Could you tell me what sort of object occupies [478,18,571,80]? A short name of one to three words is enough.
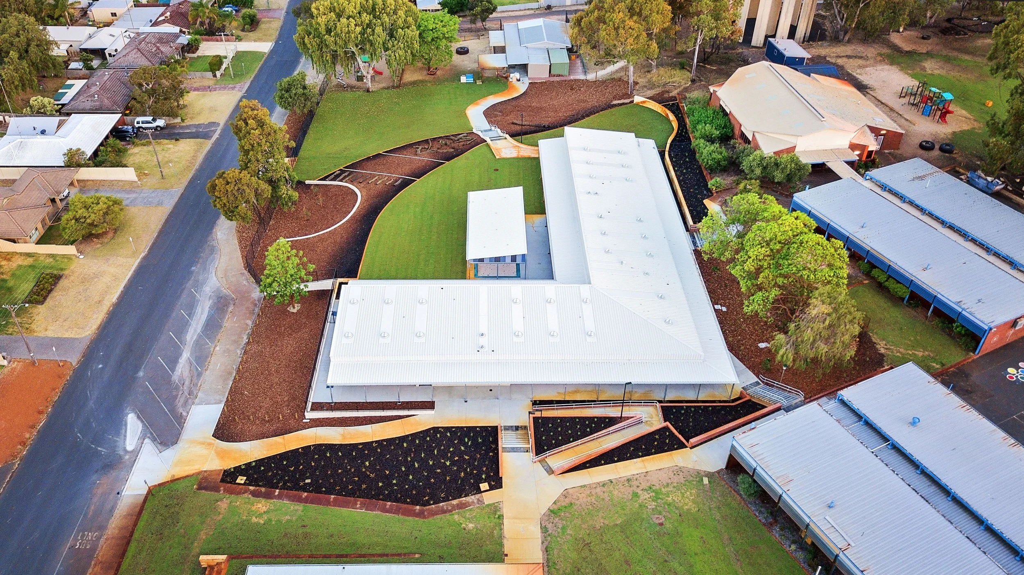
building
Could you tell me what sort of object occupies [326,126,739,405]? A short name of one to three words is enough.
building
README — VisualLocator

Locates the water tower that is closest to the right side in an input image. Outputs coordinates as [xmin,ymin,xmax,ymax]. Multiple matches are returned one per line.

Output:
[737,0,824,46]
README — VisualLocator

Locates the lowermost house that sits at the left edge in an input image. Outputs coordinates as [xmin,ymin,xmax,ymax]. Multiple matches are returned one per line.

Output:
[0,167,80,252]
